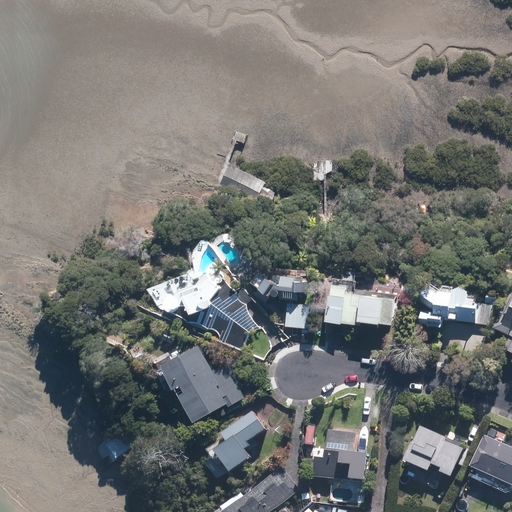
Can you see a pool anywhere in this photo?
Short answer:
Yes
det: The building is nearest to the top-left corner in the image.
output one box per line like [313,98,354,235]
[220,164,266,200]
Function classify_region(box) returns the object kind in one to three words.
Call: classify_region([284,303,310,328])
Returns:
building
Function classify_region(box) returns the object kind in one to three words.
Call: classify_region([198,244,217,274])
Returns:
swimming pool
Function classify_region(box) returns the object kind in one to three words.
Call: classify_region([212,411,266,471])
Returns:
house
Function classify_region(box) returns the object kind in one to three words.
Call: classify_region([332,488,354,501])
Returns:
swimming pool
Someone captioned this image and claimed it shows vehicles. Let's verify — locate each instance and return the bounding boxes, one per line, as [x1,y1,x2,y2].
[423,386,438,392]
[410,382,423,390]
[320,382,334,392]
[360,358,376,364]
[364,398,372,414]
[468,425,478,440]
[345,375,358,382]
